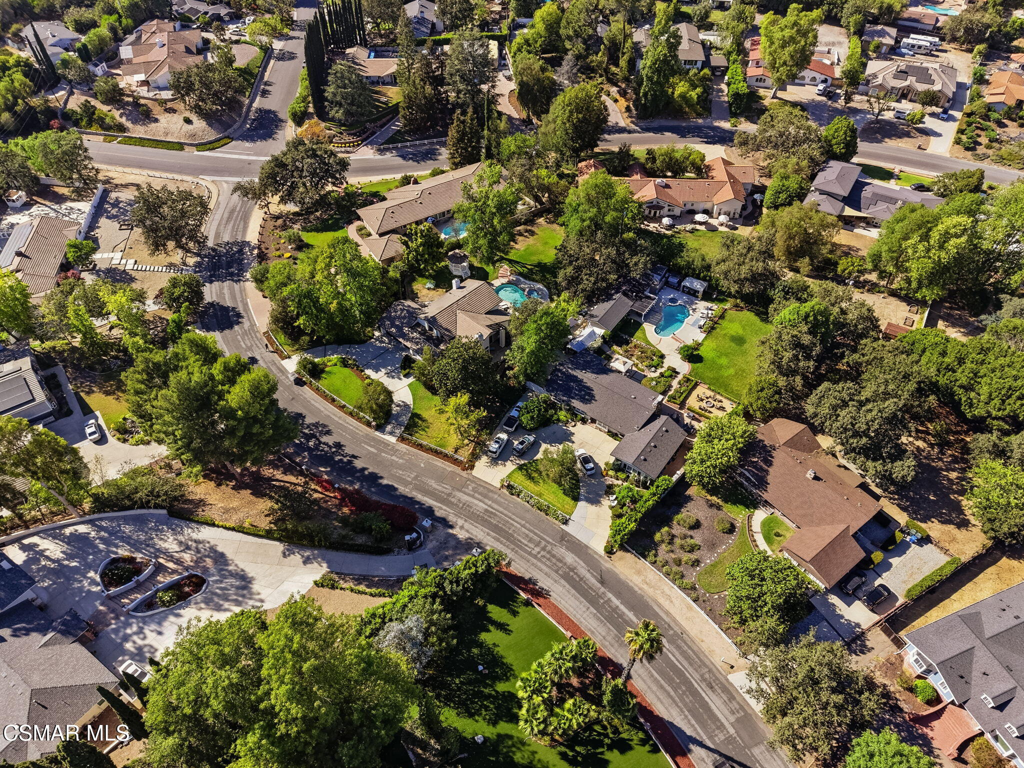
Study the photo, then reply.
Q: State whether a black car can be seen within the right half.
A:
Yes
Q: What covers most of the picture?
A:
trees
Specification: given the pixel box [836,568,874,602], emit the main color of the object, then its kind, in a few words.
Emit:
black car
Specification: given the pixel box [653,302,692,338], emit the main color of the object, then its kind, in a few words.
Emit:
blue swimming pool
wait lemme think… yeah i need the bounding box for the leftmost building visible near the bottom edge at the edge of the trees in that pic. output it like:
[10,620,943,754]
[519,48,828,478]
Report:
[0,547,121,768]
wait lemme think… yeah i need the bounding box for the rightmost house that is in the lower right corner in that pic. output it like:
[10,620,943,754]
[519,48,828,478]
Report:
[892,596,1024,768]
